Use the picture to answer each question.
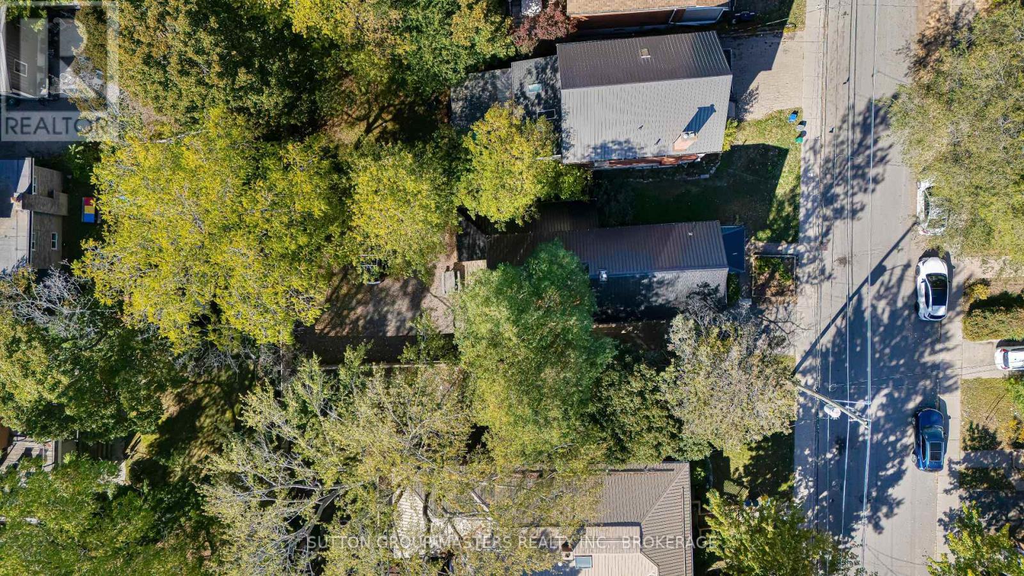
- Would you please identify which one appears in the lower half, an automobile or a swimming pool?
automobile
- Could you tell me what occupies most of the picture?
trees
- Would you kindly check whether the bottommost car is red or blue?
blue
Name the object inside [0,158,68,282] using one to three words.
house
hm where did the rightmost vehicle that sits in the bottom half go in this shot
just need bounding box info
[991,344,1024,370]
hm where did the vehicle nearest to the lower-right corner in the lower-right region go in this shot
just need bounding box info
[911,406,948,471]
